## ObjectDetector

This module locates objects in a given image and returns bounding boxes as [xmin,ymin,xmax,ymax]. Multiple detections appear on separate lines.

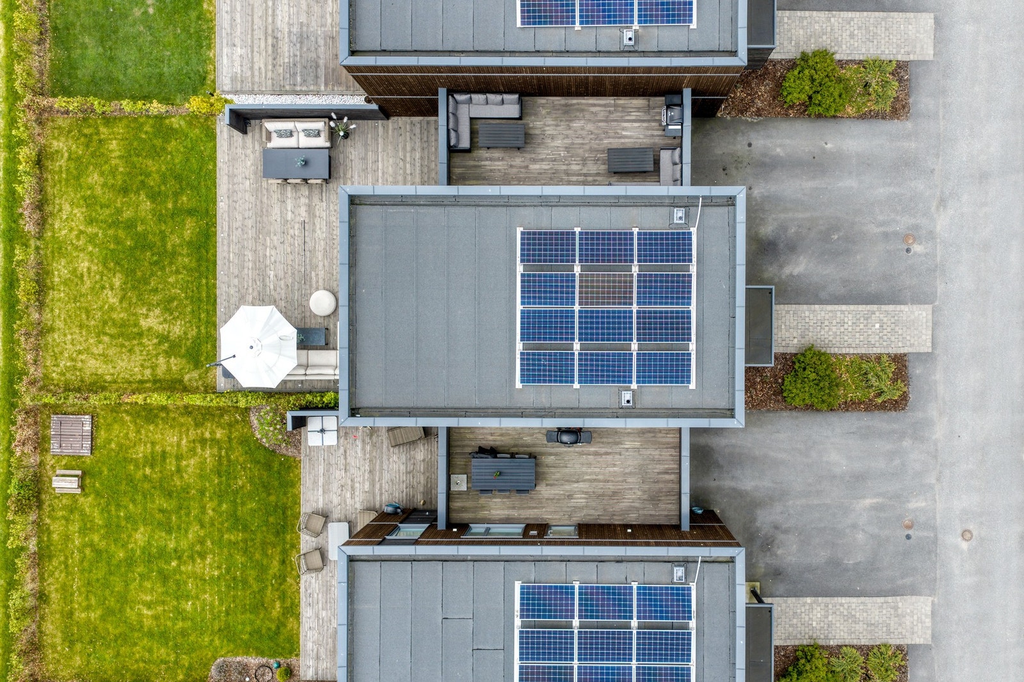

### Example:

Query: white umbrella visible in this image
[207,305,297,388]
